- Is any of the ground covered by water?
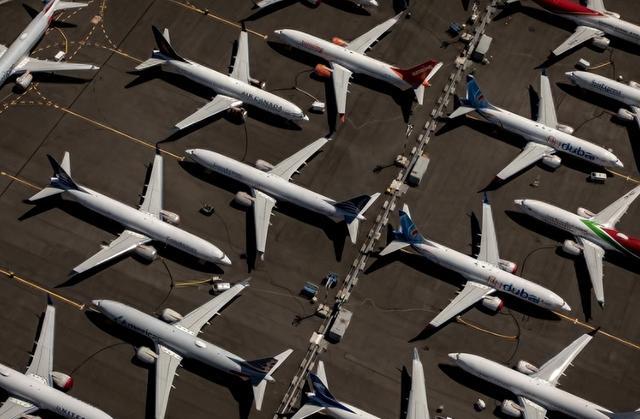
No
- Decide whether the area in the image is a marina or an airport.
airport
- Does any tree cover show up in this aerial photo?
No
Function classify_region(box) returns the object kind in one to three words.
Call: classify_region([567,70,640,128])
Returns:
airplane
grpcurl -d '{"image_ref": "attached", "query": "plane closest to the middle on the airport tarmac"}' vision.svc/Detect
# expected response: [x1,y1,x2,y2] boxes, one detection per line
[186,130,381,261]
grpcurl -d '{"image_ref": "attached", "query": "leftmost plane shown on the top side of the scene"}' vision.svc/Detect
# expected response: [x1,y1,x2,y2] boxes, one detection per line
[0,0,99,89]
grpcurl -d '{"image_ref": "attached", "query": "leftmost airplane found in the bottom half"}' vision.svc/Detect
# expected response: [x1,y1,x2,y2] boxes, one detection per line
[0,293,119,419]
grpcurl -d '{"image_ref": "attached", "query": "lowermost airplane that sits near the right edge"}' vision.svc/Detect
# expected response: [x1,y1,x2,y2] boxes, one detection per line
[448,327,640,419]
